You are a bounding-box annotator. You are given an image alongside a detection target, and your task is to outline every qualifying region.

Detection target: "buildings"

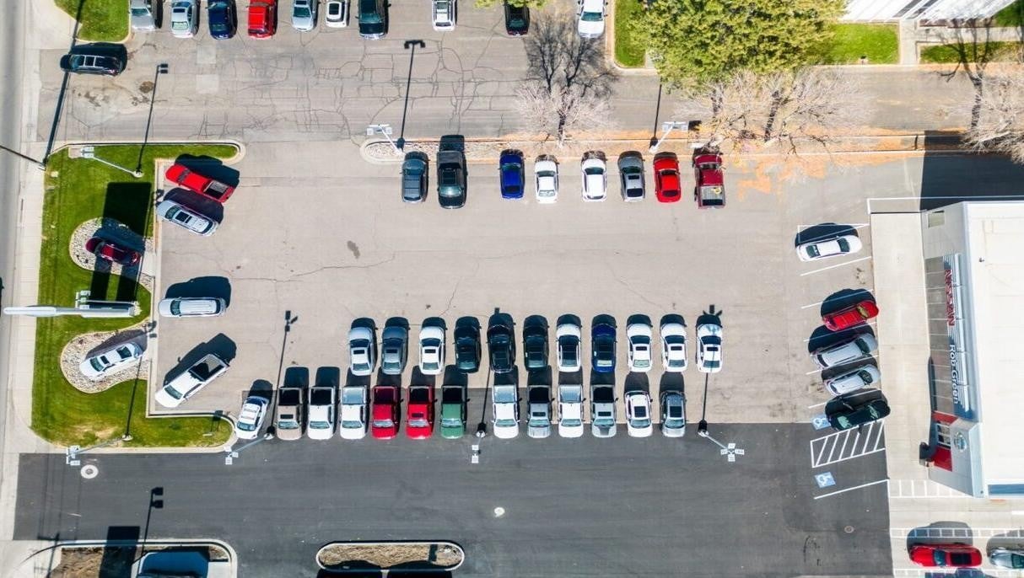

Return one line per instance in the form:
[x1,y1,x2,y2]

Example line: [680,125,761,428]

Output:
[923,199,1024,500]
[831,0,1024,25]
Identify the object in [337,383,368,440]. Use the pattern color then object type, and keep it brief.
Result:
white truck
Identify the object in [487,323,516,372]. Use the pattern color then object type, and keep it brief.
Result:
black car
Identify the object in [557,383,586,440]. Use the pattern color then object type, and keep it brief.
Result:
white truck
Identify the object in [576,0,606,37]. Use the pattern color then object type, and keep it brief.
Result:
white car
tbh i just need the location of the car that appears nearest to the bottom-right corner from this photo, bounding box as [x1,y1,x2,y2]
[984,548,1024,572]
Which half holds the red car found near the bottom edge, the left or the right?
right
